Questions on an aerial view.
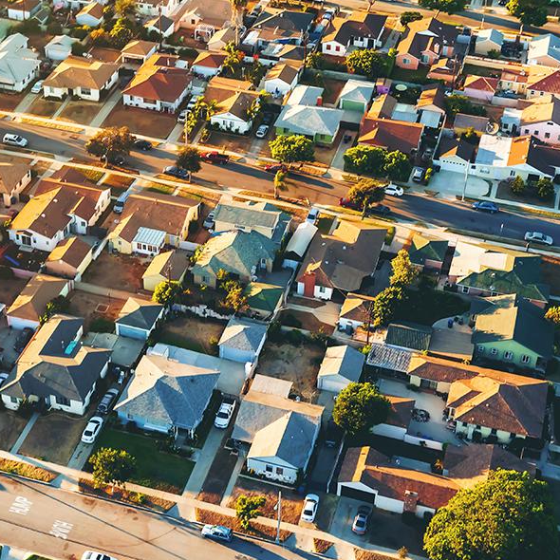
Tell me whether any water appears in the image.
No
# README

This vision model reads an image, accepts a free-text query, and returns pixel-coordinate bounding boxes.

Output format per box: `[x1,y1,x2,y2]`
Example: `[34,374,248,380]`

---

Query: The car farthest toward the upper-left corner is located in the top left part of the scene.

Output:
[29,80,46,94]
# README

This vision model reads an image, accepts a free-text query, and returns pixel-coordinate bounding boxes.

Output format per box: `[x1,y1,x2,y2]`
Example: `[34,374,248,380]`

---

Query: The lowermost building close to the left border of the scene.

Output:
[1,312,113,421]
